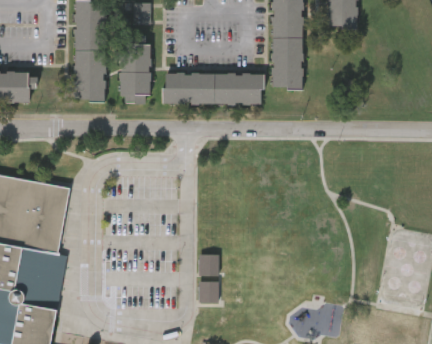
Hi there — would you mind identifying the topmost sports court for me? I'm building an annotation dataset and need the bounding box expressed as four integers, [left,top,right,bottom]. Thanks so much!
[376,229,432,317]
